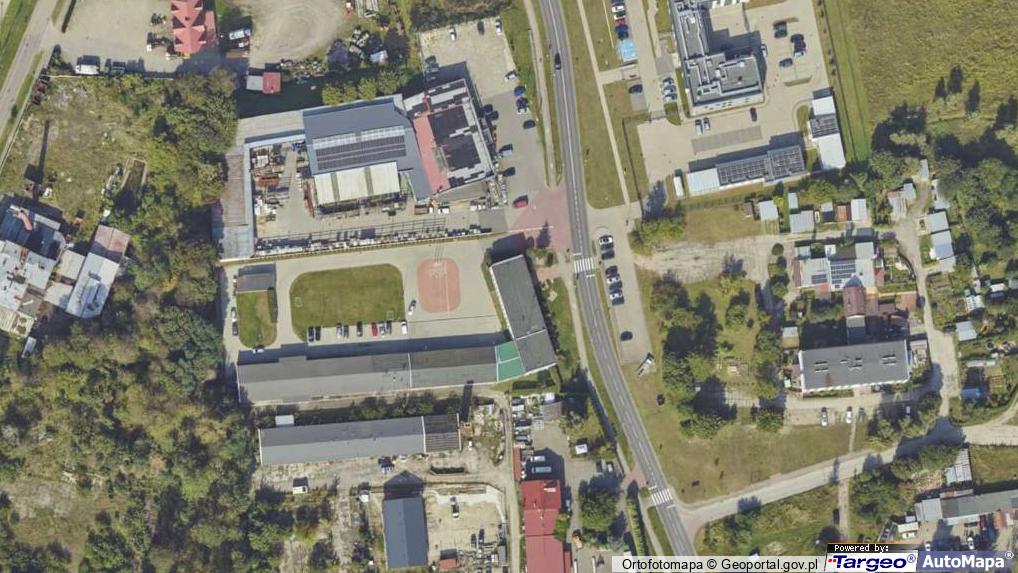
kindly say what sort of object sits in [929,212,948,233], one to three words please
building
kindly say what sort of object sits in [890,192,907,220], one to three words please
shed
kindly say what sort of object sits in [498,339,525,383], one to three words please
building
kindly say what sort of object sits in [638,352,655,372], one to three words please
vehicle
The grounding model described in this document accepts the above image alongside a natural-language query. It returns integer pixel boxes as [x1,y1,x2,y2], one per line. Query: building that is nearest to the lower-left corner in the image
[0,306,35,338]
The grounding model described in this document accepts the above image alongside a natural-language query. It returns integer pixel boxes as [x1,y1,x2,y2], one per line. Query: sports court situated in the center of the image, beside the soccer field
[418,256,461,313]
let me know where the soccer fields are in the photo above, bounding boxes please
[291,264,405,341]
